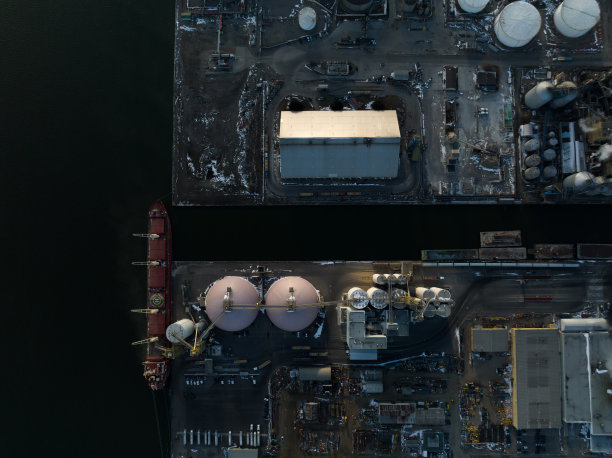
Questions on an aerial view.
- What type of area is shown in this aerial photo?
port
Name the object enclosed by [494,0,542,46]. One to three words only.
storage tank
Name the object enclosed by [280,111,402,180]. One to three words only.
building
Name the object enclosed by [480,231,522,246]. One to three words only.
ship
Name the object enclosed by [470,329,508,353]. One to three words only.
shed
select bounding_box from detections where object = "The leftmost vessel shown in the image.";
[130,194,173,456]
